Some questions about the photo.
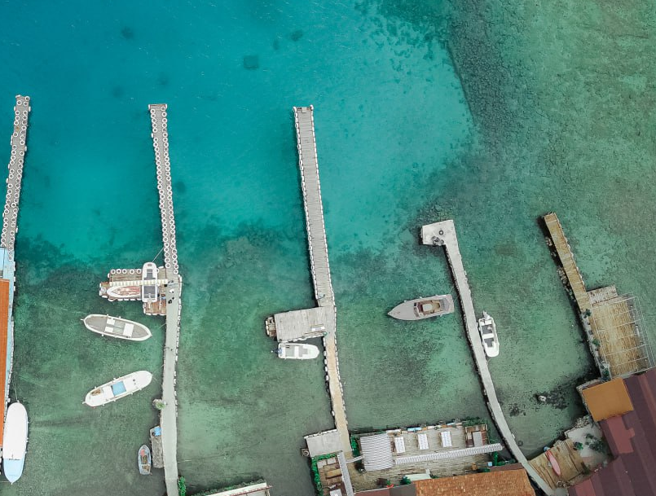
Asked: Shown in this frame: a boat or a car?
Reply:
boat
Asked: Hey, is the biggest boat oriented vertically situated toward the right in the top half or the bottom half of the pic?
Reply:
bottom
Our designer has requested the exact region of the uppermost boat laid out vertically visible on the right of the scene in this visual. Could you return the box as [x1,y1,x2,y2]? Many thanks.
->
[478,314,500,357]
